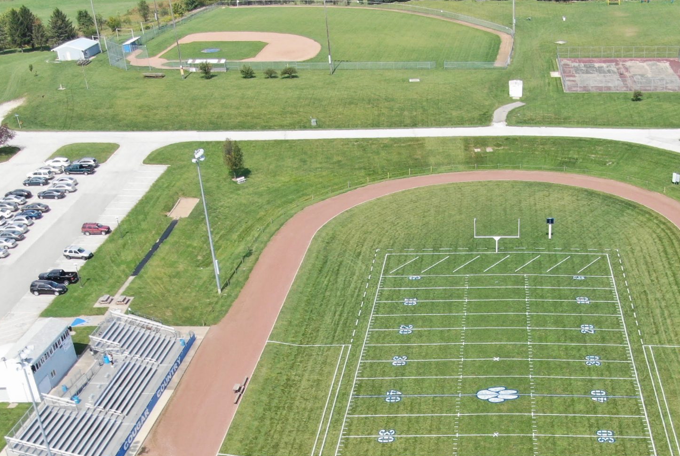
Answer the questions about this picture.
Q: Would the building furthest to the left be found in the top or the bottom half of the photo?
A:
top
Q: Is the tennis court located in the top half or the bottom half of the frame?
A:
top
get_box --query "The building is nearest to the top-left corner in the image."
[54,37,99,60]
